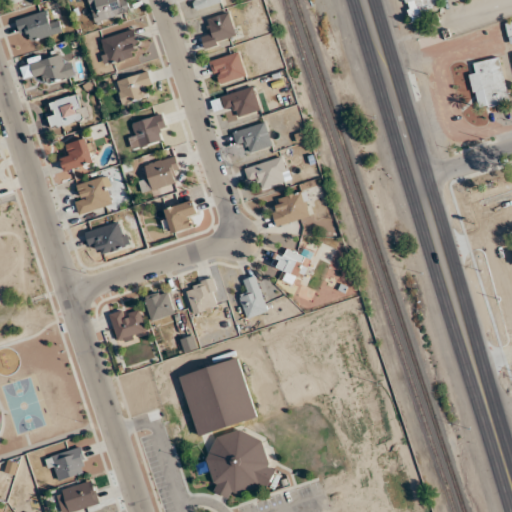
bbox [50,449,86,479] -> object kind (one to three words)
house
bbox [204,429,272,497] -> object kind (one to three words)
building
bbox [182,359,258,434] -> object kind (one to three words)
building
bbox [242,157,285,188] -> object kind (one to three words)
house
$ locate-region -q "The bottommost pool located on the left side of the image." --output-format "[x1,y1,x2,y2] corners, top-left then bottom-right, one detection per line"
[100,145,114,168]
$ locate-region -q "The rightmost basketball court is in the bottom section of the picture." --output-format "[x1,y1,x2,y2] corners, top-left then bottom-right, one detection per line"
[2,378,46,434]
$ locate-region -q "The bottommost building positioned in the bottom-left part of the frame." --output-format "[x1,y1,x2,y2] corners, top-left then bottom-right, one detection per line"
[56,481,99,512]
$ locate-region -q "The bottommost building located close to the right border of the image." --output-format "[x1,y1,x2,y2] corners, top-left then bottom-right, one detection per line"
[467,62,508,109]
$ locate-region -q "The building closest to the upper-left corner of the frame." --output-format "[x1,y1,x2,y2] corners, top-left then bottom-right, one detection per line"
[16,12,62,40]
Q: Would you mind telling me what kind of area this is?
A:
residential area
